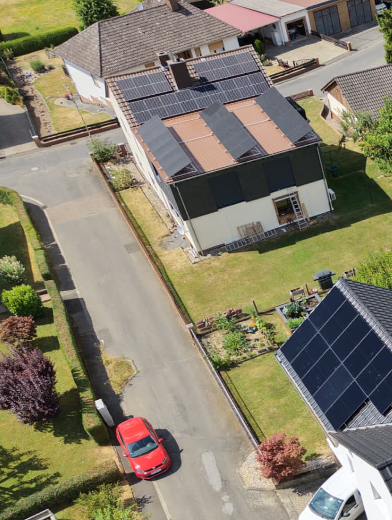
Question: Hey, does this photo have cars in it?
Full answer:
Yes, looking at the shot, I can spot a car.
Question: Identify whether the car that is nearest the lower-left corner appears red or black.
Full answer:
The color of the car that is nearest the lower-left corner is red.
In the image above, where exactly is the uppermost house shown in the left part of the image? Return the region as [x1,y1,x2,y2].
[58,0,243,106]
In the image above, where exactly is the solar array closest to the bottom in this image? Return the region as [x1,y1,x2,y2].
[284,285,392,432]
